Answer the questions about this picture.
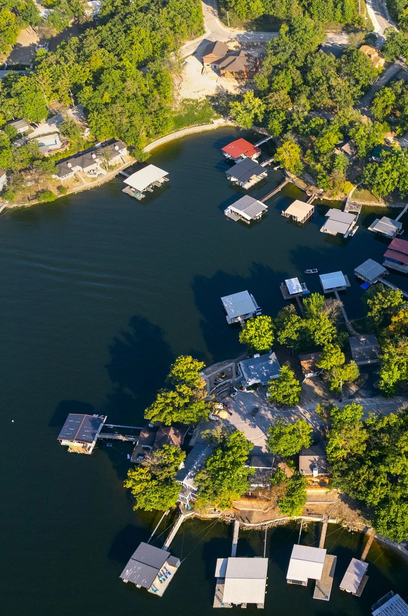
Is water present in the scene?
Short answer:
Yes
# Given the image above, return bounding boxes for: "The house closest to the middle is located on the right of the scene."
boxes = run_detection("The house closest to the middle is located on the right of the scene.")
[239,352,280,390]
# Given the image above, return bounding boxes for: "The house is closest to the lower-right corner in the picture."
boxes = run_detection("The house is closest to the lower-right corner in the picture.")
[299,447,331,478]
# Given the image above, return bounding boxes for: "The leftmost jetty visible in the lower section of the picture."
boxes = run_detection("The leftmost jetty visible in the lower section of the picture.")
[57,414,110,454]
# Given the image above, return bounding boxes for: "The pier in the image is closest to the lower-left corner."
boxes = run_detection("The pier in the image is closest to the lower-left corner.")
[120,543,182,596]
